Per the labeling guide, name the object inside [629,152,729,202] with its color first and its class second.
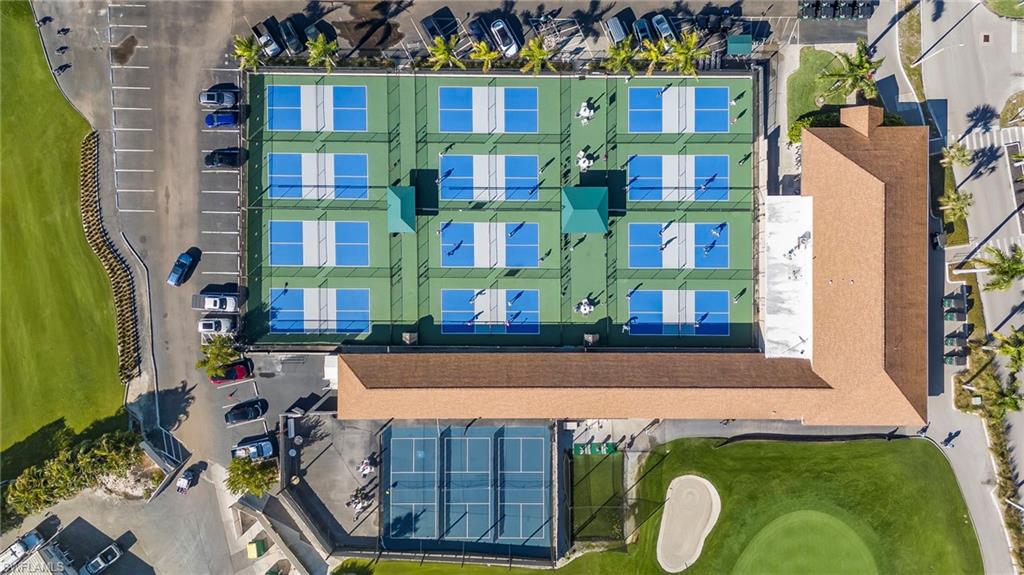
blue sports court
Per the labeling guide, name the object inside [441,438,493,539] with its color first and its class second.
blue tennis court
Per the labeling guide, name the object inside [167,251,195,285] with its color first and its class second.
blue car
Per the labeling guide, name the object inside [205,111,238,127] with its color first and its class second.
blue car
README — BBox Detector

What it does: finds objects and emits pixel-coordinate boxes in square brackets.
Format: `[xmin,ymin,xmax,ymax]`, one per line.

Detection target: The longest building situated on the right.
[337,103,929,426]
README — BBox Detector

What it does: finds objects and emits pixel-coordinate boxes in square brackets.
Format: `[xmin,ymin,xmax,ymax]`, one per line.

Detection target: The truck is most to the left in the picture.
[0,531,45,574]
